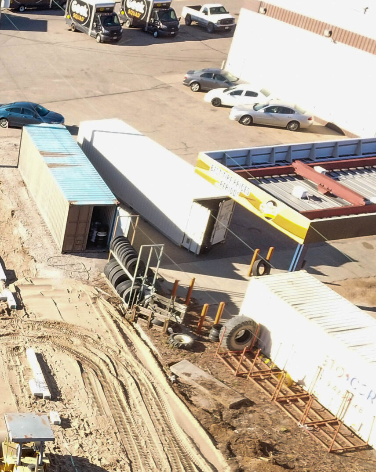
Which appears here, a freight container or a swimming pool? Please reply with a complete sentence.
Of the two, only a freight container appears.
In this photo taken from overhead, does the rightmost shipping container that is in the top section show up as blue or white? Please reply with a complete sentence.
The rightmost shipping container that is in the top section looks white in the image.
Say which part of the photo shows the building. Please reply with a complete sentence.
You can find the building in the top right area of the picture.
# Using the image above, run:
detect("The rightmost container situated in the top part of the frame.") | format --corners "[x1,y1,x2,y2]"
[78,117,233,252]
